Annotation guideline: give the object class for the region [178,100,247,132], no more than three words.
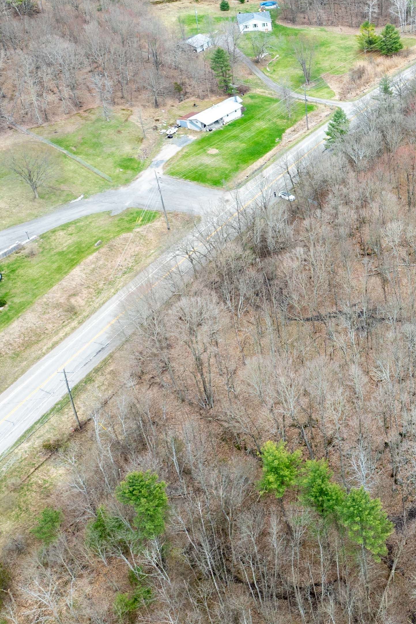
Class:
house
